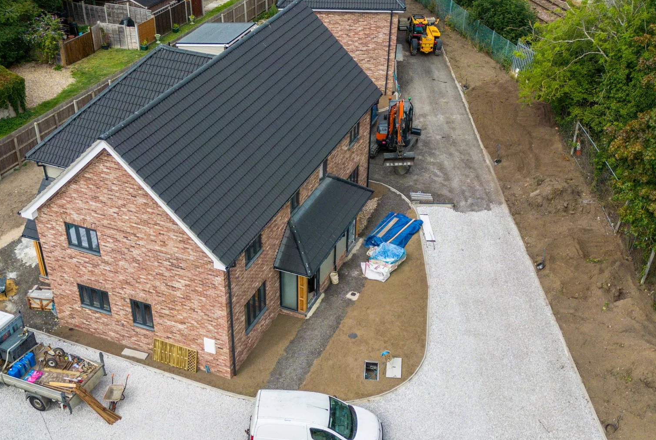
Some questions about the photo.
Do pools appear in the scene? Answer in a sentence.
No, the frame has no pool in it.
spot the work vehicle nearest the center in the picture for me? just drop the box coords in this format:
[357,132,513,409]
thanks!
[376,96,413,160]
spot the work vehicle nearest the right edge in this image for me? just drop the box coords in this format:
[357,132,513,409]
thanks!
[407,12,444,56]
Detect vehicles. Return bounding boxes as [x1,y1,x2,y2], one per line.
[242,388,386,440]
[0,311,110,417]
[407,12,444,56]
[376,96,413,160]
